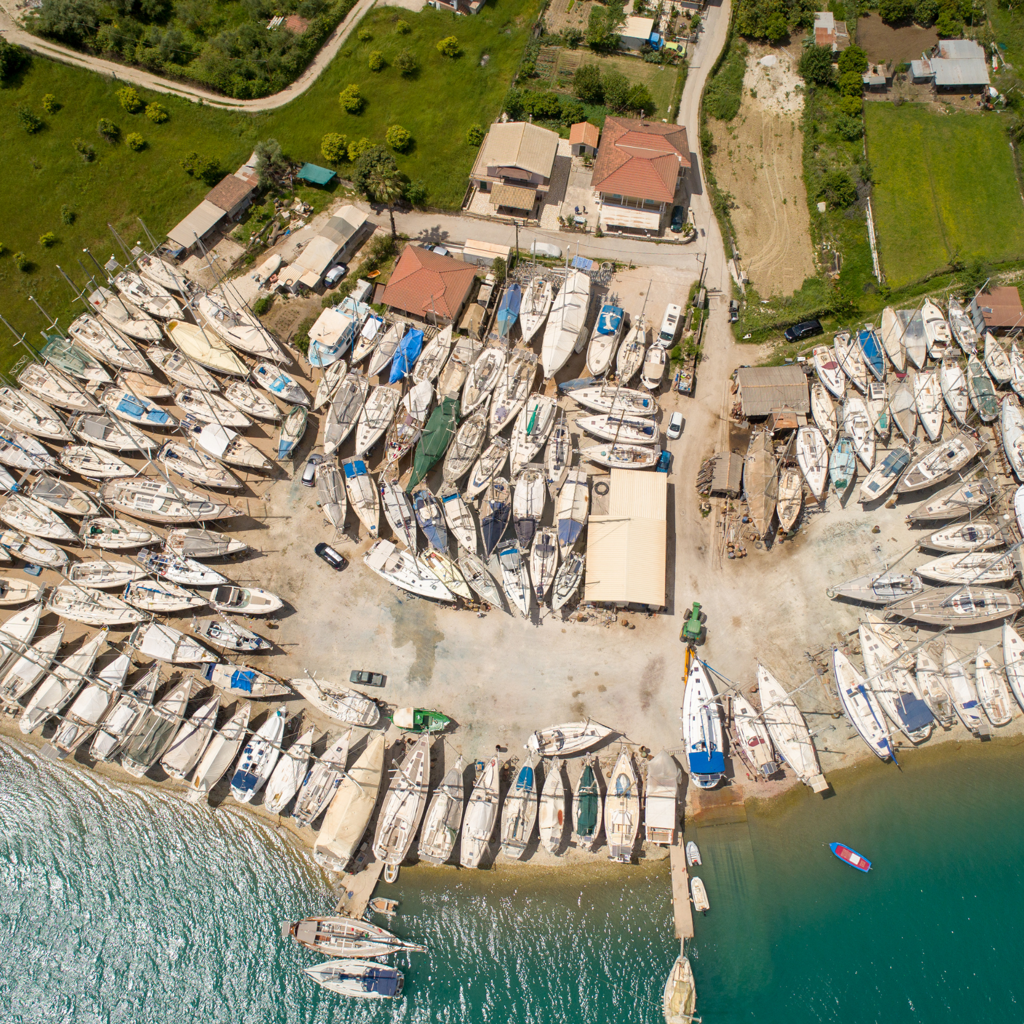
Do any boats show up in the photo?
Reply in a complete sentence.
Yes, looking at the shot, I can spot a boat.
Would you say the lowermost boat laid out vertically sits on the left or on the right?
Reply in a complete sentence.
The lowermost boat laid out vertically is on the right side of the image.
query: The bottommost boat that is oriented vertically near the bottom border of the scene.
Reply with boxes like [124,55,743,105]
[664,951,697,1024]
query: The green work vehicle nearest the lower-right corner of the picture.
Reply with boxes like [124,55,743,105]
[678,602,706,649]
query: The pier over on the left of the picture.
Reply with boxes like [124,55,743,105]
[335,858,384,920]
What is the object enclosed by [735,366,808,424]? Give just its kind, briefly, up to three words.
building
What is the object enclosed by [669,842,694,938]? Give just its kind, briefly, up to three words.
pier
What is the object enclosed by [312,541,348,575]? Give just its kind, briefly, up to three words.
car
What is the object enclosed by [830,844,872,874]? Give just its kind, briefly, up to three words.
boat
